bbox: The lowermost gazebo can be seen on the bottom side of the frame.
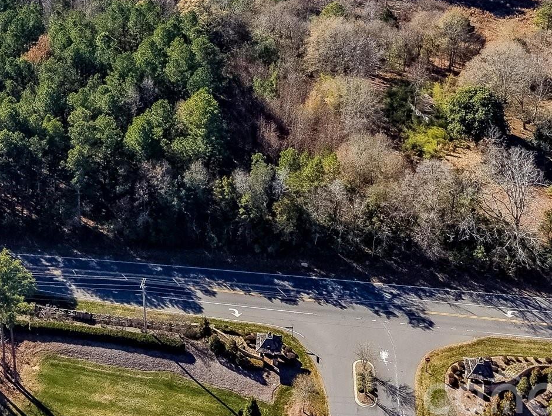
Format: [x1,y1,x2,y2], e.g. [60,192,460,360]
[463,354,498,395]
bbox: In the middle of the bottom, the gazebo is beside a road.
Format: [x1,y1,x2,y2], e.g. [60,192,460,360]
[255,329,283,367]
